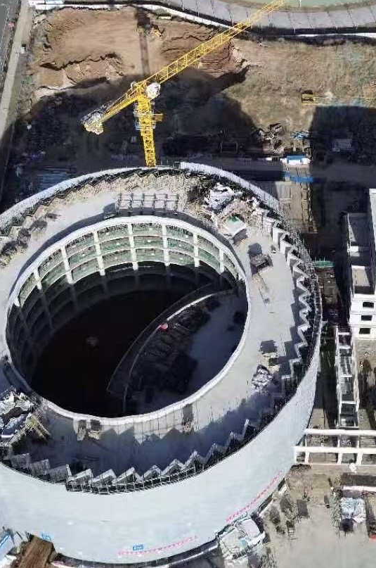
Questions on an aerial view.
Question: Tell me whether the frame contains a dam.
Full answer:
No, no dam is visible in the view.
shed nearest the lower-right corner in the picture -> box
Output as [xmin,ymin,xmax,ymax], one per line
[218,511,272,563]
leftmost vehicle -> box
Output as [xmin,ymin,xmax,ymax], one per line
[141,20,164,35]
